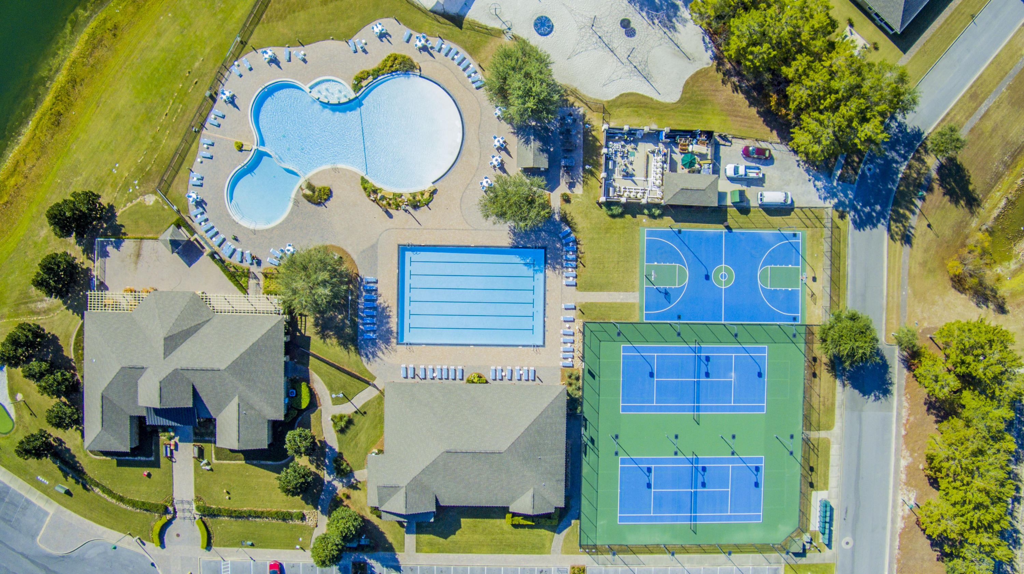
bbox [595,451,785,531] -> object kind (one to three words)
tennis court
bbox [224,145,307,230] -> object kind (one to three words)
swimming pool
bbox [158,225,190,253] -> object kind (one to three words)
gazebo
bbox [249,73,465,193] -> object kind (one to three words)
swimming pool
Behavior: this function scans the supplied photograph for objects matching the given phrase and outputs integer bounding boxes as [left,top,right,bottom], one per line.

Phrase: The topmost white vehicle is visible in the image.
[725,162,765,177]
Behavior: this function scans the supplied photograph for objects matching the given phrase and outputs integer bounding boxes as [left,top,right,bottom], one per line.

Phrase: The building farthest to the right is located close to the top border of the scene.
[855,0,930,38]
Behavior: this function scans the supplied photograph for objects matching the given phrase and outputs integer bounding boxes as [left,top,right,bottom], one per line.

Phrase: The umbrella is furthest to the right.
[681,153,696,169]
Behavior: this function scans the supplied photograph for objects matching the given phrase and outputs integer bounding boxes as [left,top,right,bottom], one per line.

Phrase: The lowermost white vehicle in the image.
[758,190,793,204]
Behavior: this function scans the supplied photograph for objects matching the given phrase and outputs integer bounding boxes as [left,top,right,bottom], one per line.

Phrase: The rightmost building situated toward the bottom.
[367,381,565,522]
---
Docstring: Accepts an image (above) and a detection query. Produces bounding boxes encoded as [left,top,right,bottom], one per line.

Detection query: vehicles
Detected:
[266,562,280,574]
[725,162,765,177]
[742,144,773,159]
[758,190,793,204]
